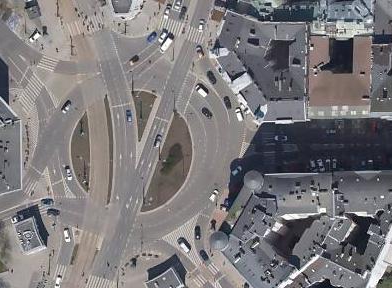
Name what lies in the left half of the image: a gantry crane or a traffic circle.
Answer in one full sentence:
What appears in the left half of the image is a traffic circle.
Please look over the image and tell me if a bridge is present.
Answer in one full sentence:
No, there isn't any bridge down there.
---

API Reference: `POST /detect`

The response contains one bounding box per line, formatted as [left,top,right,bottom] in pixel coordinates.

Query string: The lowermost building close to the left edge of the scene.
[12,216,45,255]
